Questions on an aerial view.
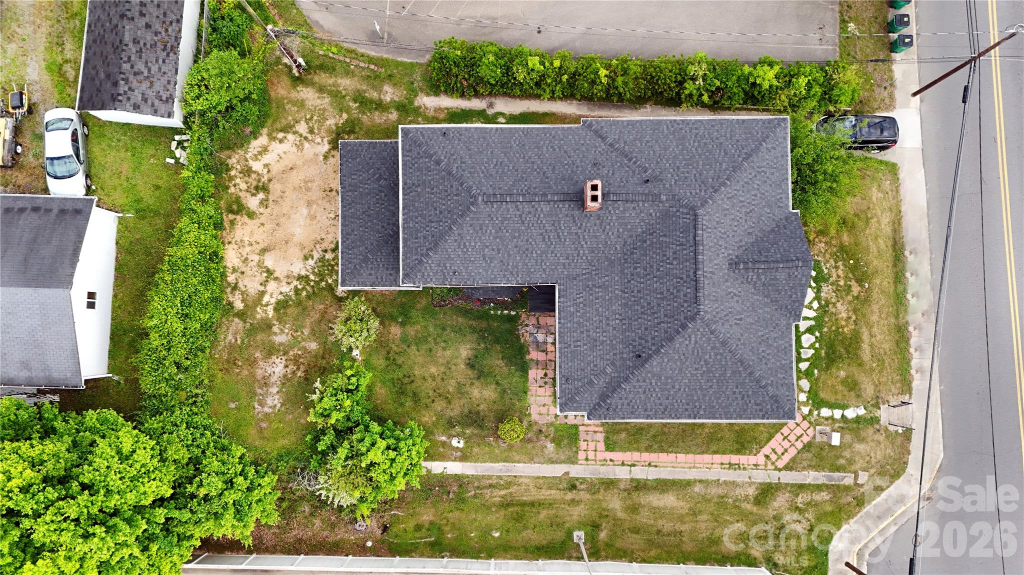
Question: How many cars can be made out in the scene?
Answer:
two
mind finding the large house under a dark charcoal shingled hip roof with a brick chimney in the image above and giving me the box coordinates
[337,115,809,423]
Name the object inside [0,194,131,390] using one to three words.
house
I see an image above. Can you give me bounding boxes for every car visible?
[41,110,93,194]
[811,113,901,158]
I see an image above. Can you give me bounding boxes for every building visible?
[0,194,131,390]
[337,115,809,423]
[75,0,199,126]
